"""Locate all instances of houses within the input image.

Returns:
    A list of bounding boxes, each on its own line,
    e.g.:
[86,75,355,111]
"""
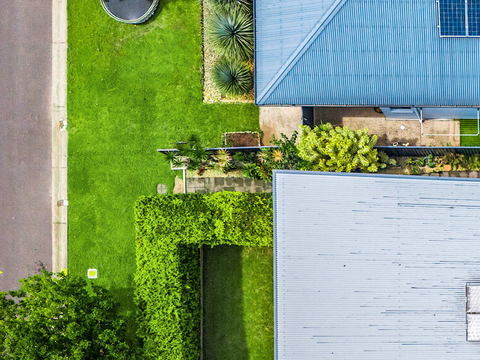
[252,0,480,122]
[275,169,480,360]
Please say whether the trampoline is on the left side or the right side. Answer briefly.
left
